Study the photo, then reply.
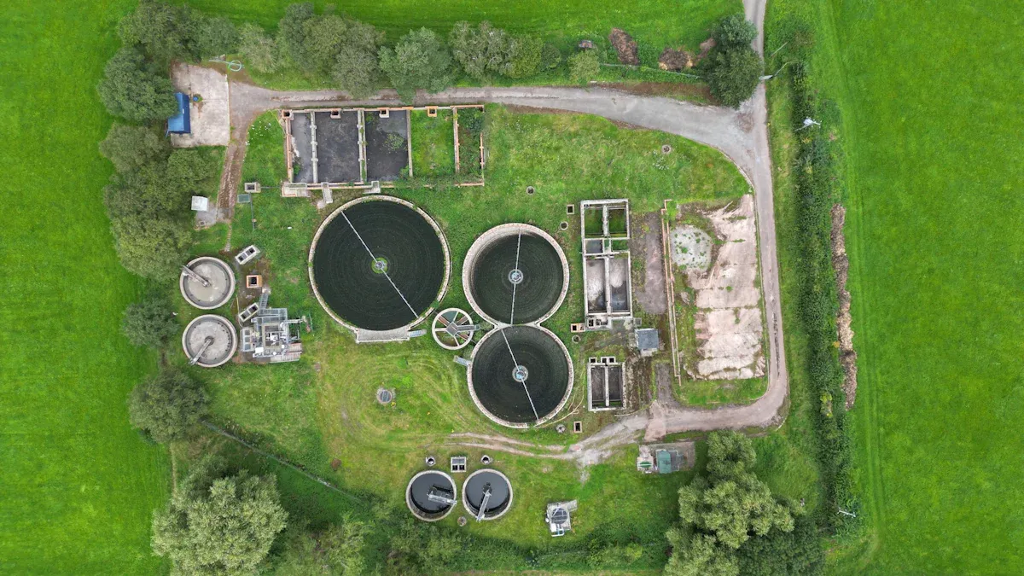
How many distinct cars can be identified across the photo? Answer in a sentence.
Not a single car can be seen.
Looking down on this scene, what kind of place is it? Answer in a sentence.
The picture captures an industrial area.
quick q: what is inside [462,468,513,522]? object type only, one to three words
storage tank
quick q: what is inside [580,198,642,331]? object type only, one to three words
storage tank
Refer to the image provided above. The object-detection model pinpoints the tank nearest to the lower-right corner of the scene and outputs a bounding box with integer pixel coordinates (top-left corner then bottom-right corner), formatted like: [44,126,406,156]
[587,355,626,411]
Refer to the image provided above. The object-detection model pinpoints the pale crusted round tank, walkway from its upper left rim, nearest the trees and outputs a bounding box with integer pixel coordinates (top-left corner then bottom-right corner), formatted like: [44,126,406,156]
[177,255,238,311]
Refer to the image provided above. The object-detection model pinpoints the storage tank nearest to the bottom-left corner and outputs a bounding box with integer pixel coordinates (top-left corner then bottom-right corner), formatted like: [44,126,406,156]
[182,312,240,368]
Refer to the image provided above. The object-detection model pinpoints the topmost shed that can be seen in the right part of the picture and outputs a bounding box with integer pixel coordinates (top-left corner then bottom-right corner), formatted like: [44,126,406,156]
[635,329,658,356]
